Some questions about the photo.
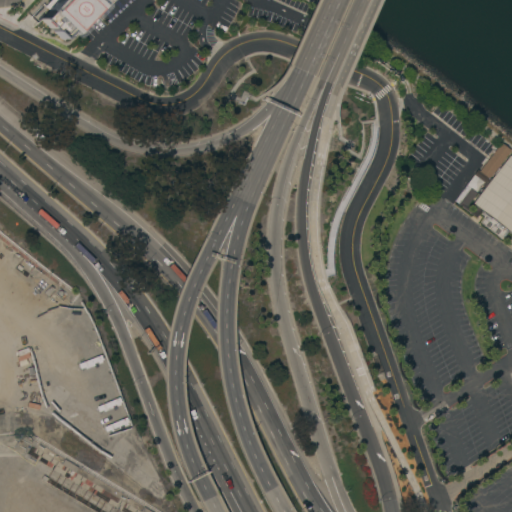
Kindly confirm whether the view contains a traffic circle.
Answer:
No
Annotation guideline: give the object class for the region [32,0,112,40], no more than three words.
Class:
building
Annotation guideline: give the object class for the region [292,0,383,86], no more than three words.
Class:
bridge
